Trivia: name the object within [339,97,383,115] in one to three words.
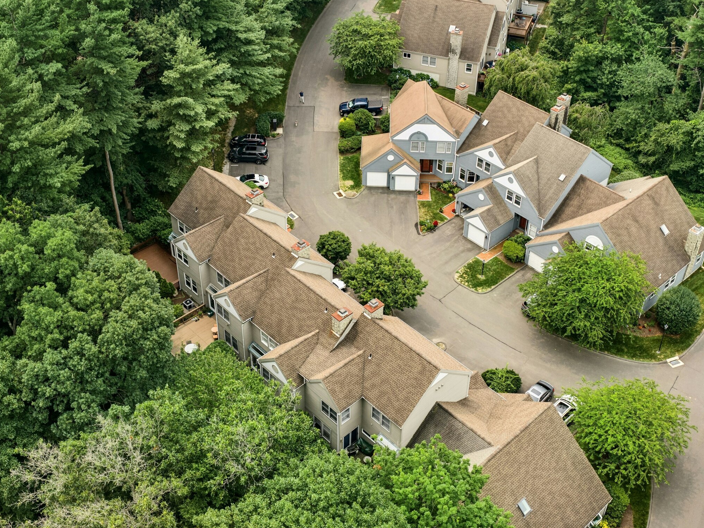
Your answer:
vehicle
